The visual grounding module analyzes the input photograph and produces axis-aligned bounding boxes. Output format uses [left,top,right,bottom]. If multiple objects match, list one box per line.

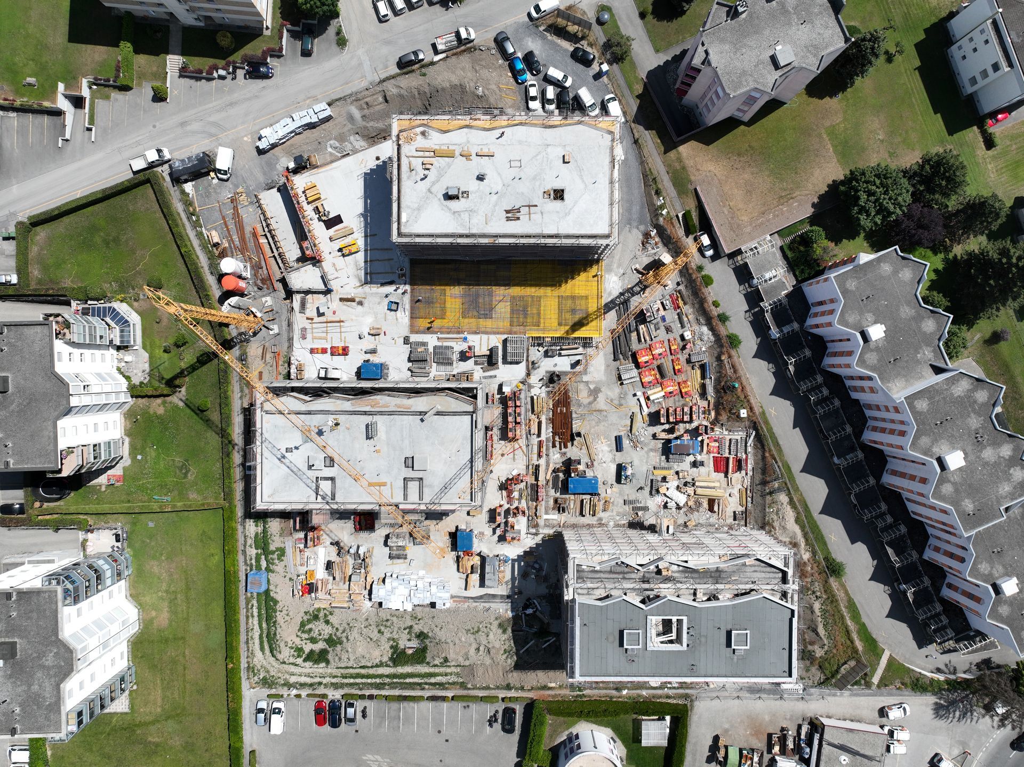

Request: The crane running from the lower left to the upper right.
[456,231,715,503]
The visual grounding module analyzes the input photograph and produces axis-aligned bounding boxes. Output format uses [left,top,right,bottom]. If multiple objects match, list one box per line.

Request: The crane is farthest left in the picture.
[140,285,451,562]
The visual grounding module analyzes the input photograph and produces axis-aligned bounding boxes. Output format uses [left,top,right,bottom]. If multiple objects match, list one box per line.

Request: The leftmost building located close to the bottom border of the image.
[0,550,140,743]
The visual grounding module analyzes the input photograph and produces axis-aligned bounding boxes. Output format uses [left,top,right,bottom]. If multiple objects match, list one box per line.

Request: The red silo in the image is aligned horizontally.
[222,274,262,295]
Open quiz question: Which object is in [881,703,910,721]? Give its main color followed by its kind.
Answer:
white vehicle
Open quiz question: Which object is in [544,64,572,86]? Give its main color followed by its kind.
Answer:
white car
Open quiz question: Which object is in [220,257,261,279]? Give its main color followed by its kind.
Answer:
white silo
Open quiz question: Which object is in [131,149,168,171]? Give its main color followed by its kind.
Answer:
white truck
